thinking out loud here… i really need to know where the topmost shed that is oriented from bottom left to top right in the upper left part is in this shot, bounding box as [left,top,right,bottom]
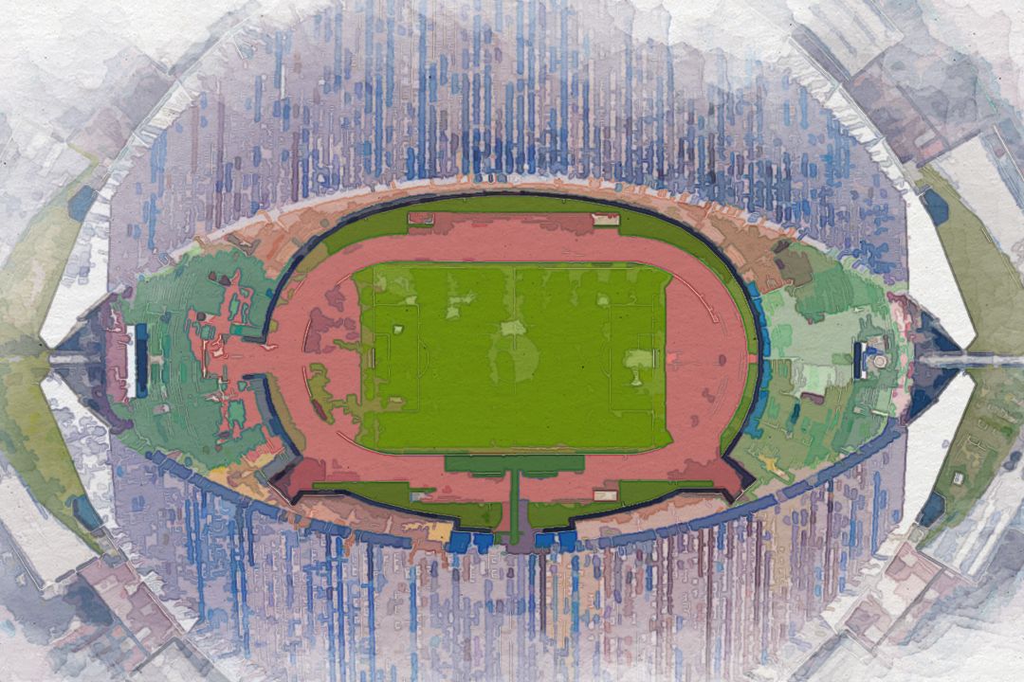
[168,1,266,79]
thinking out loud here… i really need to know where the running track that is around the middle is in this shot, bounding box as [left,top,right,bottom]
[262,203,757,543]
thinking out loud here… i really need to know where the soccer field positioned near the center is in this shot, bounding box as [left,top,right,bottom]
[351,260,675,454]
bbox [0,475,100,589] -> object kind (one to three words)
building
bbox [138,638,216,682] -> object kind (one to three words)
building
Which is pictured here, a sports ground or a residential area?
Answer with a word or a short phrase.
sports ground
